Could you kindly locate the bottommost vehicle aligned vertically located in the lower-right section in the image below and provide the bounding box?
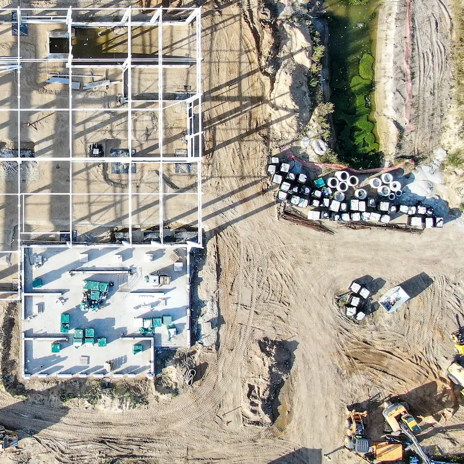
[343,405,372,464]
